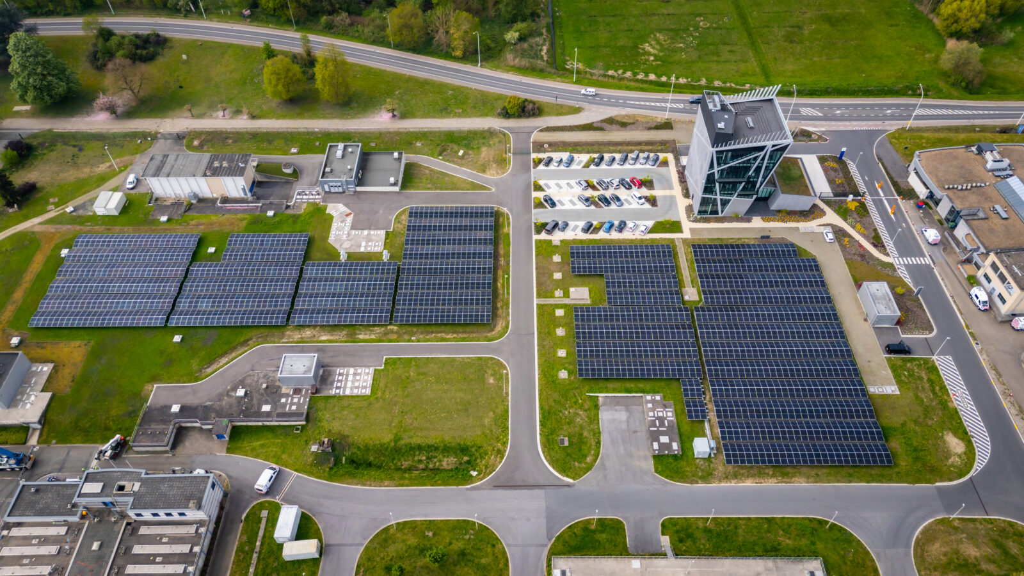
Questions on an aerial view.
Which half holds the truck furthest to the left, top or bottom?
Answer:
bottom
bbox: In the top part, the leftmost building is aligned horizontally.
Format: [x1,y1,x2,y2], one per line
[138,154,258,200]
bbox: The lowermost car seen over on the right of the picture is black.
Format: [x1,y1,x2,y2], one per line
[885,340,911,354]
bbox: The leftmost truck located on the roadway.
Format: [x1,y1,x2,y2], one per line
[0,443,48,486]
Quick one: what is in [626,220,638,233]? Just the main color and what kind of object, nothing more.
white vehicle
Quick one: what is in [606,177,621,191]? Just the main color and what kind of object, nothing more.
white car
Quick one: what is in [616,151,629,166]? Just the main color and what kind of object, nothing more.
gray vehicle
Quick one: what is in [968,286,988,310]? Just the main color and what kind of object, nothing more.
white vehicle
